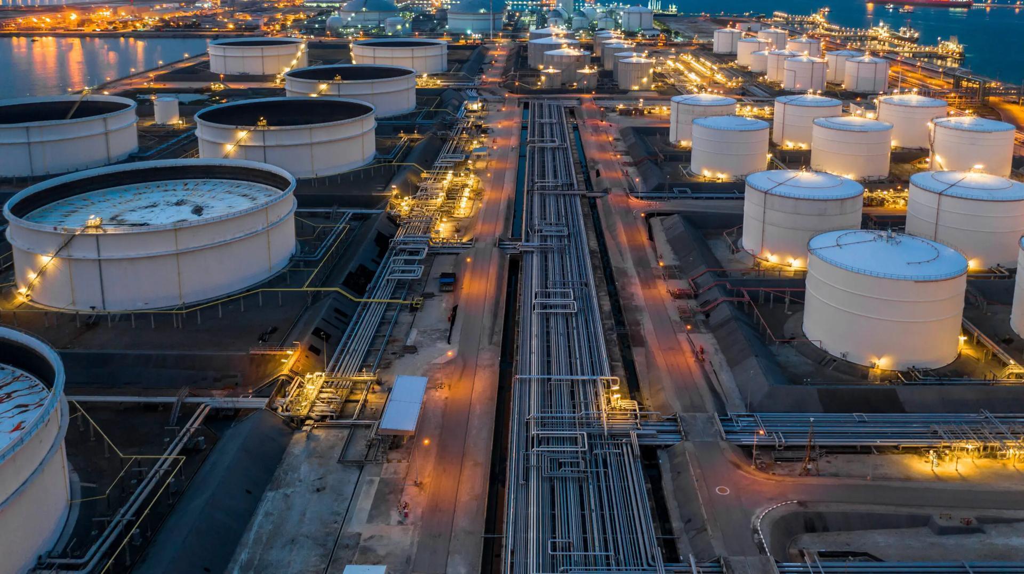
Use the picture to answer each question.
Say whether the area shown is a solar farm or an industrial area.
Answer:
industrial area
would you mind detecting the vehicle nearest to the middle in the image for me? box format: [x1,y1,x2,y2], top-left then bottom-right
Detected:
[440,272,457,289]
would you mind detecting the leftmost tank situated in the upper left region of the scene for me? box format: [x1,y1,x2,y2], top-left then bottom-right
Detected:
[0,93,144,178]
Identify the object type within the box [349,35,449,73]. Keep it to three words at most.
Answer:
storage tank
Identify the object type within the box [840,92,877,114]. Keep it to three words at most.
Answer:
shed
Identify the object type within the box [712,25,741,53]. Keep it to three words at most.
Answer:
storage tank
